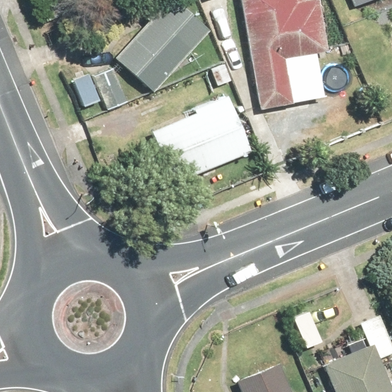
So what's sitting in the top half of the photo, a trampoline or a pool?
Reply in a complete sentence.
The one visible in the top half of the photo is a trampoline.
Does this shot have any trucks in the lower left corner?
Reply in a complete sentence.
No, I can find no truck in the lower left corner.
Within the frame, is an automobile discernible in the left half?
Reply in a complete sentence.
Yes, an automobile appears in the left half.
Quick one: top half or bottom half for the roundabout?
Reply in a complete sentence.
Seen from above, the roundabout lies in the bottom half of the view.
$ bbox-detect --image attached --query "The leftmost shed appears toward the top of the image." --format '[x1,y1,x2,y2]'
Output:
[72,74,100,108]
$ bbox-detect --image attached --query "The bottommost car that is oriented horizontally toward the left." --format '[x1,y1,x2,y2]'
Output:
[80,51,114,70]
